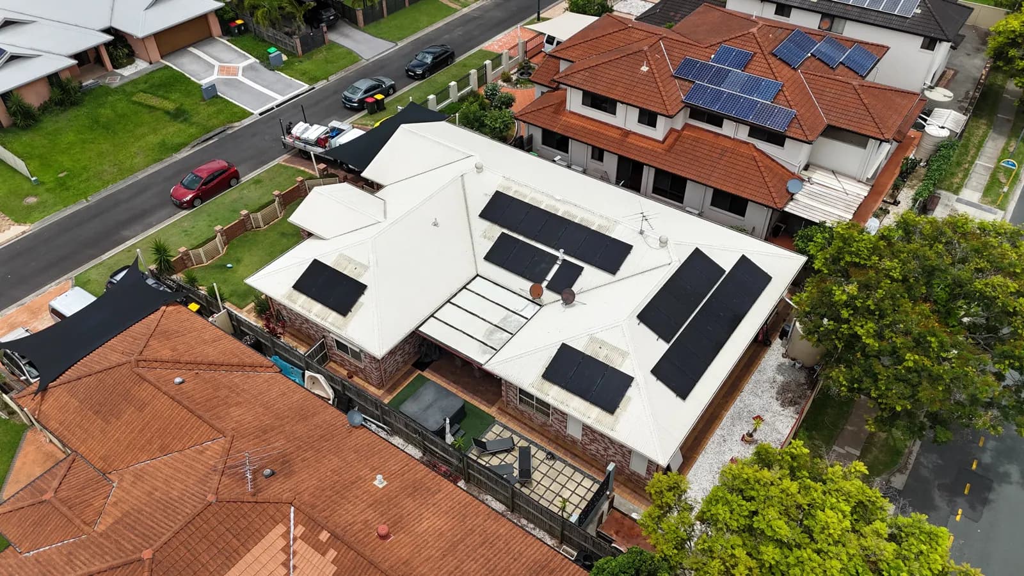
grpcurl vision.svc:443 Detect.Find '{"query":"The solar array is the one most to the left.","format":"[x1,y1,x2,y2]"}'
[292,260,366,316]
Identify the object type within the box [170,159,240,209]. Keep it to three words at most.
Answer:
car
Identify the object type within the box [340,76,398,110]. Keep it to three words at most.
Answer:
car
